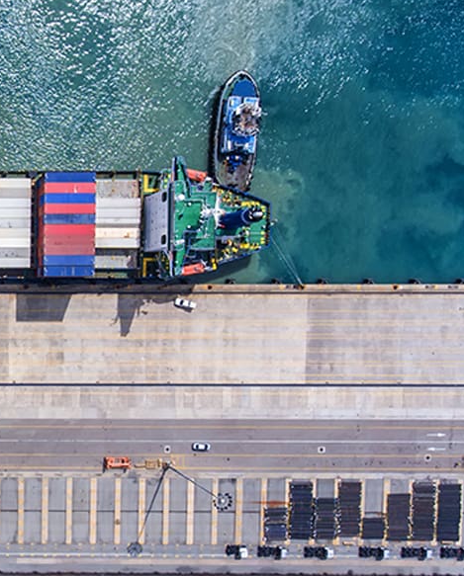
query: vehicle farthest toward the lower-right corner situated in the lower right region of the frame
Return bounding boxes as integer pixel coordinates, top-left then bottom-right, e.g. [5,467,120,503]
[436,546,464,559]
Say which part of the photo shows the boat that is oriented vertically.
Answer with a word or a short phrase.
top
